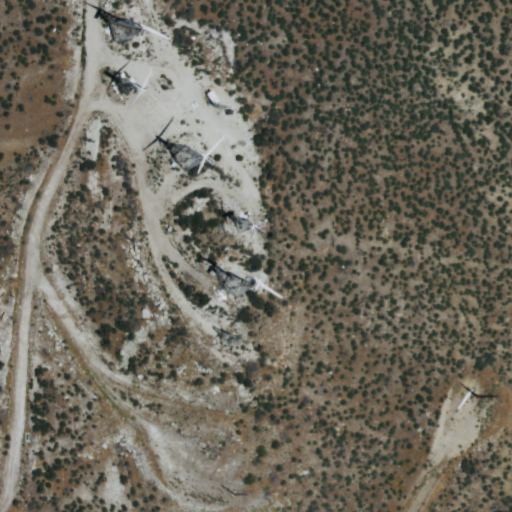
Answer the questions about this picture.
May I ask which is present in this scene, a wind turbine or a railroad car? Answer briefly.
wind turbine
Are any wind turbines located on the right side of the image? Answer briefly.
Yes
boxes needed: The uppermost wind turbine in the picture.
[109,20,164,44]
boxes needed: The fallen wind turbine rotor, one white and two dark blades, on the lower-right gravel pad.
[460,382,498,410]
